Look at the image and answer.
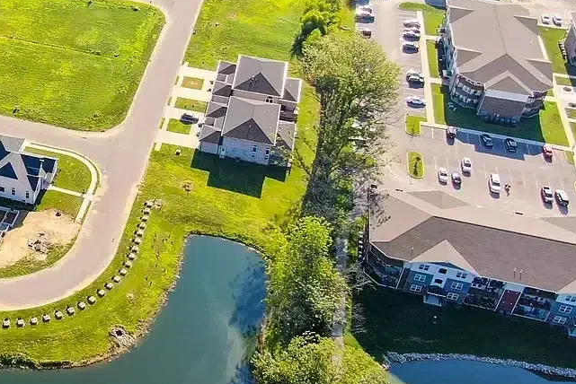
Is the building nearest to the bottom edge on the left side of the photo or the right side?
right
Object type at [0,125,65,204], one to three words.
house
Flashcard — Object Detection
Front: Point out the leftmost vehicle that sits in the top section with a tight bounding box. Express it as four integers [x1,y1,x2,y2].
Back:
[178,110,199,123]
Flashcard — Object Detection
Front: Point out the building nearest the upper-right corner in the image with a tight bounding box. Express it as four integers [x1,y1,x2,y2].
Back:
[443,0,557,121]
